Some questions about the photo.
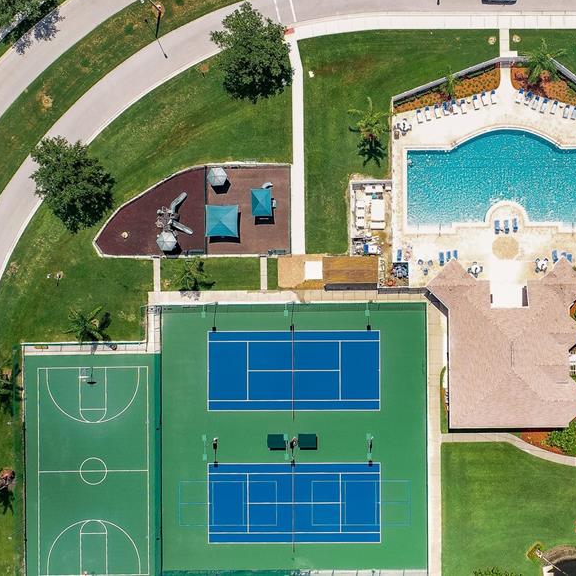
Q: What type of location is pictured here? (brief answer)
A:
sports ground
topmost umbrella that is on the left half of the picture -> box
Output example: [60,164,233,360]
[207,168,227,185]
